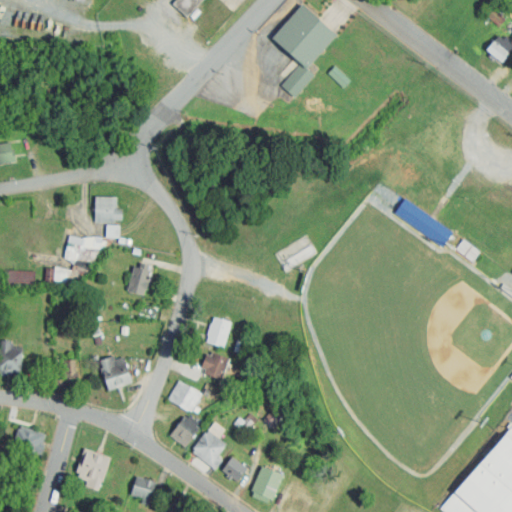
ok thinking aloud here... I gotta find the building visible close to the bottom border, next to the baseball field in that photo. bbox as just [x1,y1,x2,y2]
[439,423,512,512]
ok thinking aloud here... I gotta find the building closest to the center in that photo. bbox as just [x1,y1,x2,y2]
[276,236,316,270]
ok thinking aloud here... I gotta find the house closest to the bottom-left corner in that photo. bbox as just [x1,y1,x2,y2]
[14,426,48,454]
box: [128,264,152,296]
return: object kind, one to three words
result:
house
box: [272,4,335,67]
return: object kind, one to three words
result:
barn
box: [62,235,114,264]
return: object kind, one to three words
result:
barn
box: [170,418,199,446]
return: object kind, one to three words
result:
house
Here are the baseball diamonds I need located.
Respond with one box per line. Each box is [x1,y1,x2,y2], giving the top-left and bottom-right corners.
[302,190,512,476]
